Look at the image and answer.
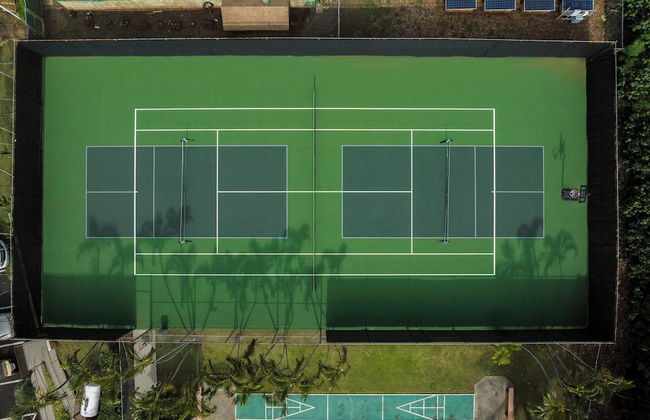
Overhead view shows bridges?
No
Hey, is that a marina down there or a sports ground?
sports ground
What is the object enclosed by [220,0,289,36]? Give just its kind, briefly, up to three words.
shed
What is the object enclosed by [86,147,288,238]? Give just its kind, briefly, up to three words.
sports court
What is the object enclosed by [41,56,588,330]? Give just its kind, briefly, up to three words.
tennis court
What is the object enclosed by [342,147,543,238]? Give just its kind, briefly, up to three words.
sports court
